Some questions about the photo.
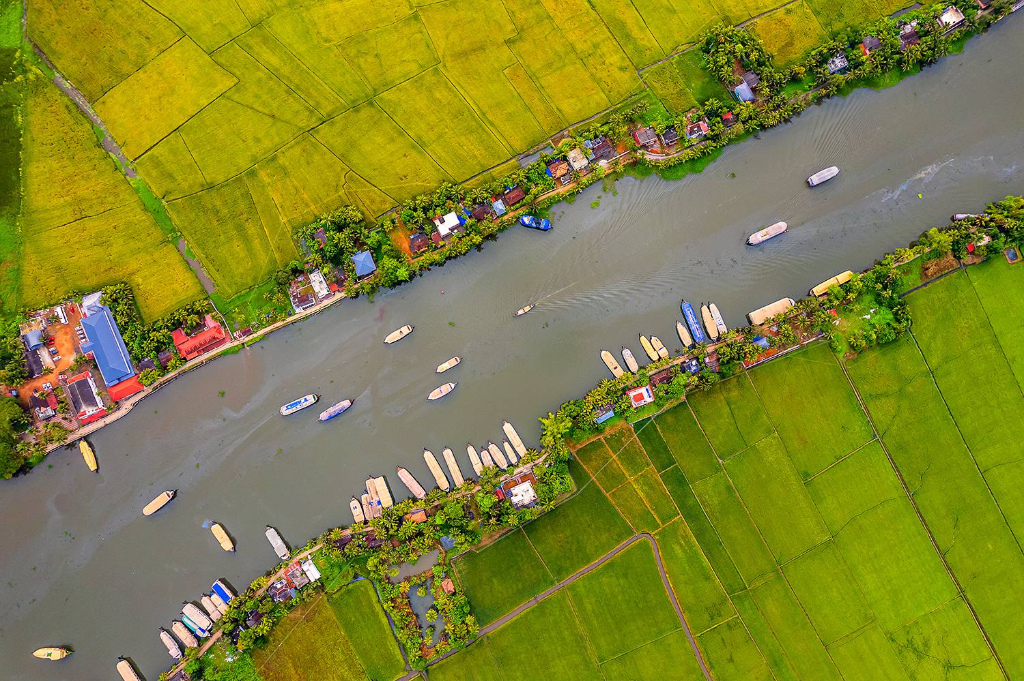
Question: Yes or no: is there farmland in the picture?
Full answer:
Yes, some farmland is visible.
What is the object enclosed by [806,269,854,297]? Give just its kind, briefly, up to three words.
boat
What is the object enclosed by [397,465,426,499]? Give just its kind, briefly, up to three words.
boat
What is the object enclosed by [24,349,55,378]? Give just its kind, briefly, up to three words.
shed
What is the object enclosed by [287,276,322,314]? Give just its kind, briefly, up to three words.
house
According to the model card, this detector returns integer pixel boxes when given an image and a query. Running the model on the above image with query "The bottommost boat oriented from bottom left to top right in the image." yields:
[143,488,181,517]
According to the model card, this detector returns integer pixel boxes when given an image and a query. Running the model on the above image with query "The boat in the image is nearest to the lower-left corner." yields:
[34,644,78,658]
